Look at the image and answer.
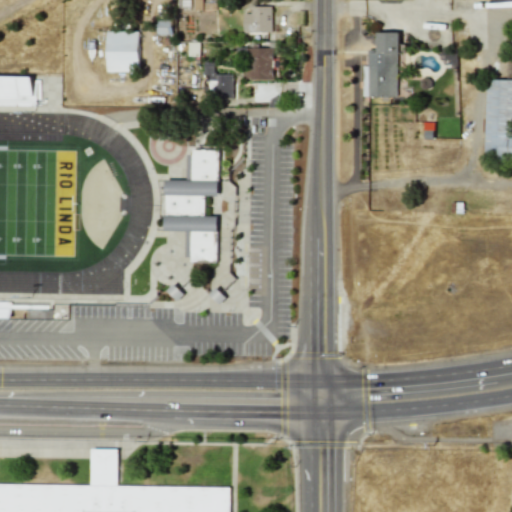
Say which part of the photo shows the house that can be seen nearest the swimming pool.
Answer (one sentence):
The house that can be seen nearest the swimming pool sits in the top right section of the image.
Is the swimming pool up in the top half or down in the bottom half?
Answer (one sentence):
You can find the swimming pool in the top half.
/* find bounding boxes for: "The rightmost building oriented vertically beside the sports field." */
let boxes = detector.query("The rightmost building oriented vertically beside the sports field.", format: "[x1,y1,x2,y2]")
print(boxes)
[162,150,219,262]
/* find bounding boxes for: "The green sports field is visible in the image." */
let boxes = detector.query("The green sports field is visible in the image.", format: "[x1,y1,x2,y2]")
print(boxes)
[0,136,130,272]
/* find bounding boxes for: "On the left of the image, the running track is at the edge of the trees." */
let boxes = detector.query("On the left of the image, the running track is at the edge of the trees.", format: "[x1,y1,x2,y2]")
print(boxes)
[0,113,153,294]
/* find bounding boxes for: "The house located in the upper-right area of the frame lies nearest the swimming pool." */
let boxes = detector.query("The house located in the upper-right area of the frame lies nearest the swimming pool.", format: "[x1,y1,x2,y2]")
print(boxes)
[364,32,400,97]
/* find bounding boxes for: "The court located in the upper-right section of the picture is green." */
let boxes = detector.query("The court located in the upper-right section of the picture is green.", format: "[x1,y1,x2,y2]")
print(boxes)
[438,117,460,138]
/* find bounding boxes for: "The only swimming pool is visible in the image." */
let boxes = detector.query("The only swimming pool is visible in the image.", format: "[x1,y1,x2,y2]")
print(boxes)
[404,51,447,81]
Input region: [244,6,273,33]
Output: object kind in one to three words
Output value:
house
